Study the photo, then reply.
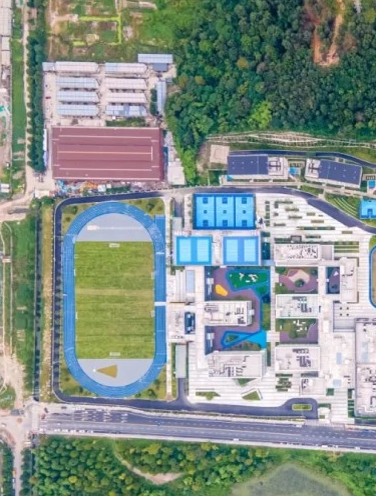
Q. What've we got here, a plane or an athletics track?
athletics track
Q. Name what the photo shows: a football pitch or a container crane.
football pitch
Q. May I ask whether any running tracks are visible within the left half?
Yes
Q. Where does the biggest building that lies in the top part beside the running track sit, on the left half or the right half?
left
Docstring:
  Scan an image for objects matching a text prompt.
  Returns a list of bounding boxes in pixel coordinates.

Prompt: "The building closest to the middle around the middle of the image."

[174,268,195,302]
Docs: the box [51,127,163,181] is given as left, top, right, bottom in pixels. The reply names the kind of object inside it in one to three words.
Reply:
building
